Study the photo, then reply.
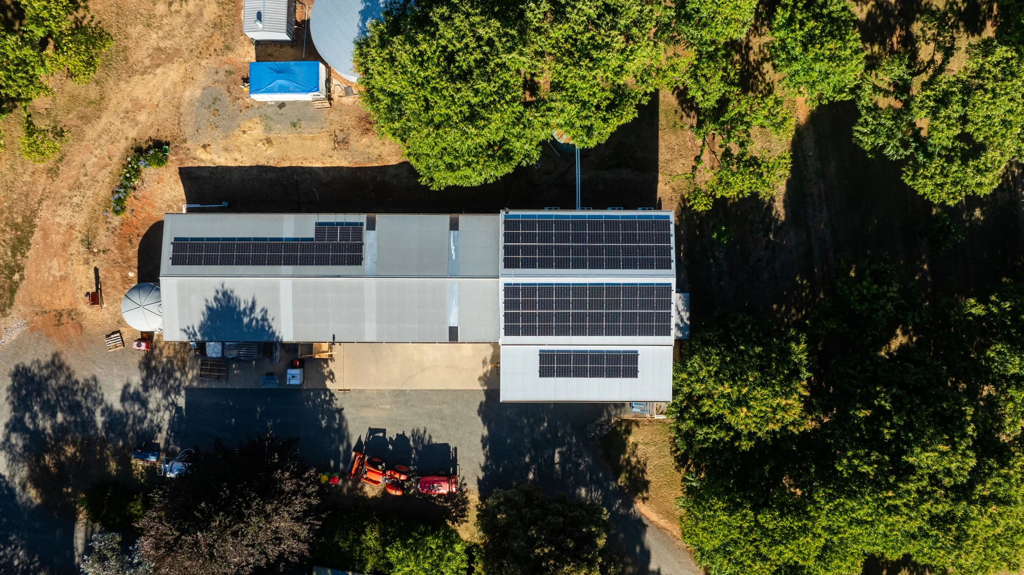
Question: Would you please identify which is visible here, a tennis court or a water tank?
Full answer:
The one in the frame is a water tank.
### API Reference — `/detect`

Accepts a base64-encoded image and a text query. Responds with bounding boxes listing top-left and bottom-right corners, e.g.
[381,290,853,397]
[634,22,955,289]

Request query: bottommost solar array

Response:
[537,354,640,378]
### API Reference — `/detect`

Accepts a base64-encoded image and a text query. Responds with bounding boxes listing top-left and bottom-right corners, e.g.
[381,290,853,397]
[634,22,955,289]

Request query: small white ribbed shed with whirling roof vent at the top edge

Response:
[243,0,296,46]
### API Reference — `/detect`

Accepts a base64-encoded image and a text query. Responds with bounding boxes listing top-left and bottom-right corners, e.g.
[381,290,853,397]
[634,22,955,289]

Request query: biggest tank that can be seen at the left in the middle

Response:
[122,287,162,327]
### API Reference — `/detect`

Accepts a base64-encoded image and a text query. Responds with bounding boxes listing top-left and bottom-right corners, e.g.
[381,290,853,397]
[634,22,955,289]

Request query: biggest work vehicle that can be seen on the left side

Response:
[347,448,410,493]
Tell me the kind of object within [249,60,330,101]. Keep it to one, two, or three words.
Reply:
building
